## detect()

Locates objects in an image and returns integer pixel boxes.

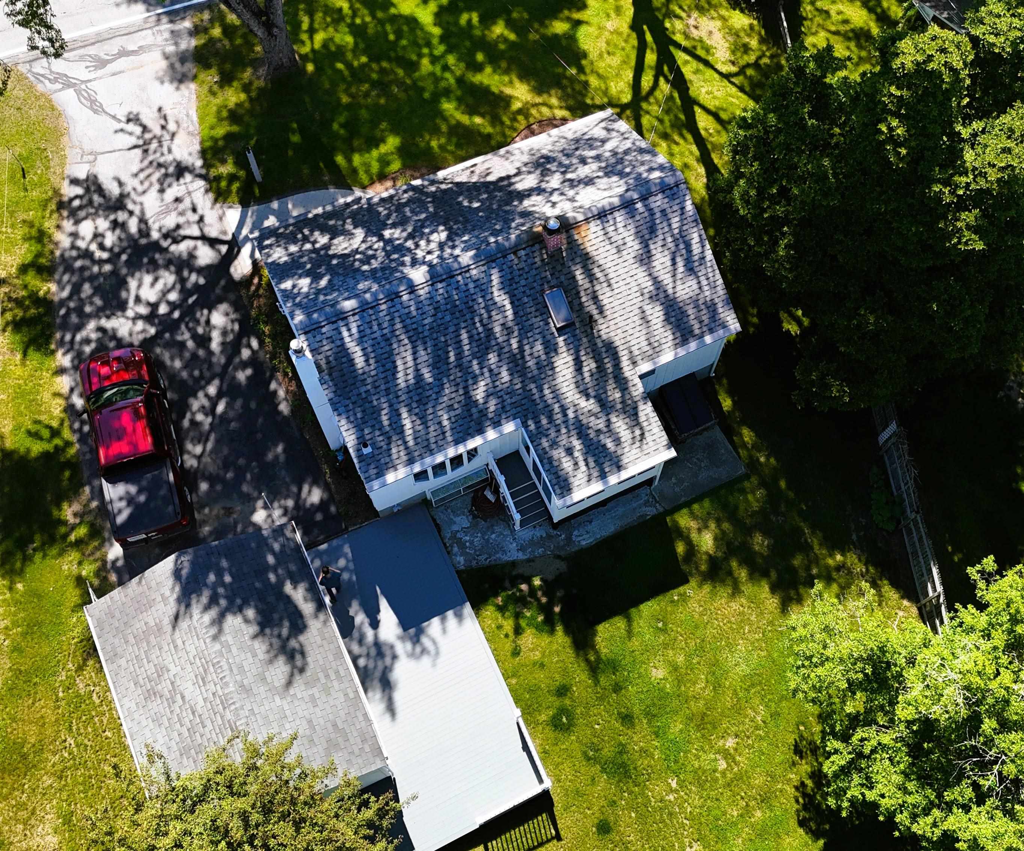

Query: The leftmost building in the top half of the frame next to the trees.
[250,102,746,532]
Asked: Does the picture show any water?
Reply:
No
